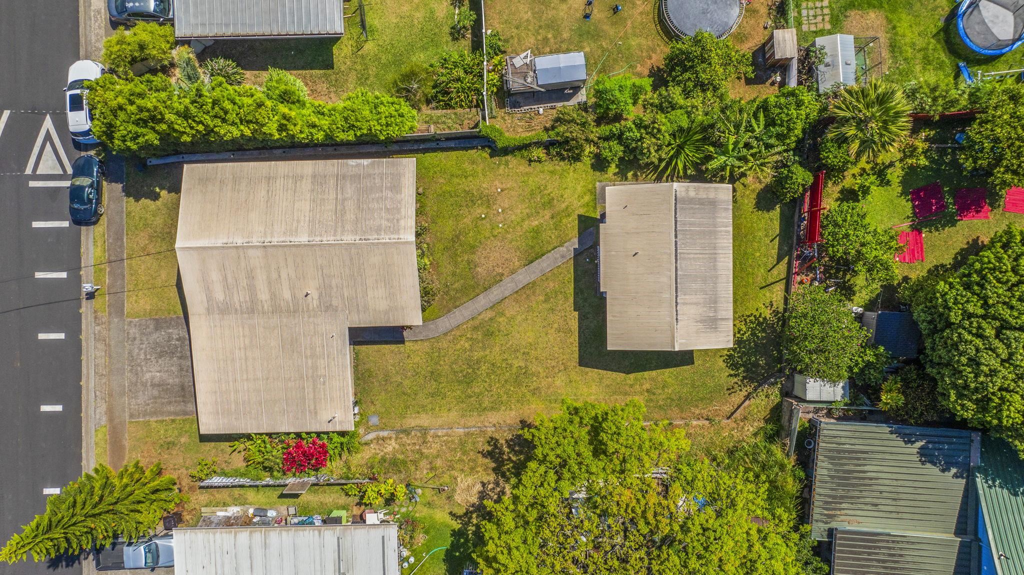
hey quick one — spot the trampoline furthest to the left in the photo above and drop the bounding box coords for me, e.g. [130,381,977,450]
[658,0,744,42]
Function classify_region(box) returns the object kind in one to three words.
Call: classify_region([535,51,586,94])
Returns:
shed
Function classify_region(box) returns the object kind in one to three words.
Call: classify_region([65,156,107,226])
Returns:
car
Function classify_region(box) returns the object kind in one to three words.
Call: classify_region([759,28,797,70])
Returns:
shed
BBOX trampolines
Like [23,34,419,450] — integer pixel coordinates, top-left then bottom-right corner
[658,0,744,42]
[956,0,1024,53]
